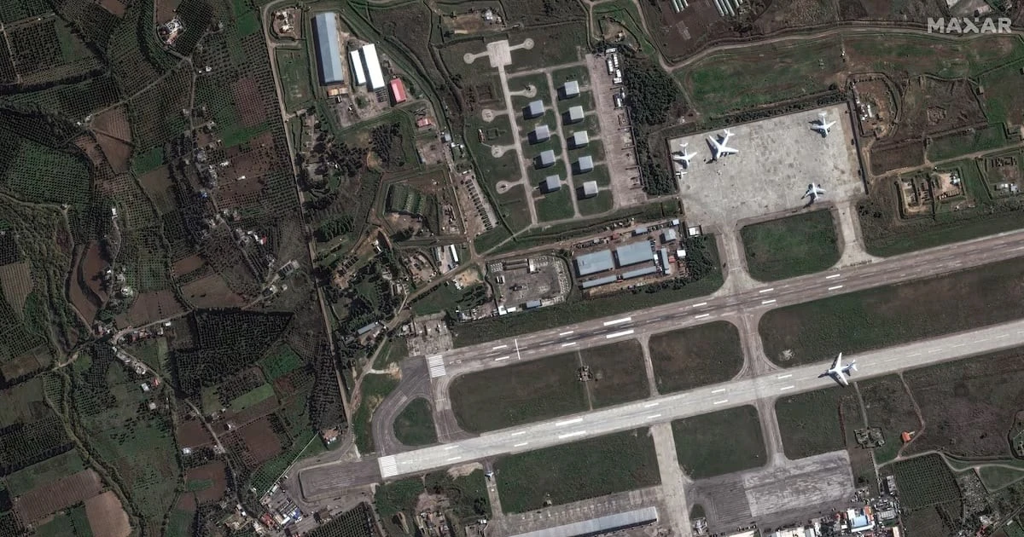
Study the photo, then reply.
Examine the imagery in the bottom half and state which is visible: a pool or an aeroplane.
aeroplane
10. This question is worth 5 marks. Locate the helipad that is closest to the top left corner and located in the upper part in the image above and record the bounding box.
[463,50,489,62]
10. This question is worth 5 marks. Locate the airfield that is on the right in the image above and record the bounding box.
[299,40,1024,537]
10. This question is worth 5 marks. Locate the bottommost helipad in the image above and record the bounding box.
[497,178,527,192]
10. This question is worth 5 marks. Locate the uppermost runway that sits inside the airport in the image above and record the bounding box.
[427,229,1024,379]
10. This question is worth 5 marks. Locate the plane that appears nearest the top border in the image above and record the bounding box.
[814,111,836,134]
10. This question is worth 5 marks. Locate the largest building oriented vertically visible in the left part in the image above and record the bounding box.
[316,12,345,84]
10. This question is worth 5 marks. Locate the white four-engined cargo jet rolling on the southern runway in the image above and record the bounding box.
[827,349,858,382]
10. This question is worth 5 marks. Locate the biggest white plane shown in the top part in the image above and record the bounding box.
[709,128,739,160]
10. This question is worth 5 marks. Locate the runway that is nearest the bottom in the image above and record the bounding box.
[378,320,1024,478]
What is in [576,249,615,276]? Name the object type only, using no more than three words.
building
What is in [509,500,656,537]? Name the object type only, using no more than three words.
shed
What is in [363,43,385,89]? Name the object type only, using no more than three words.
building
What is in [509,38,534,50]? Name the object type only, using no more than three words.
helipad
